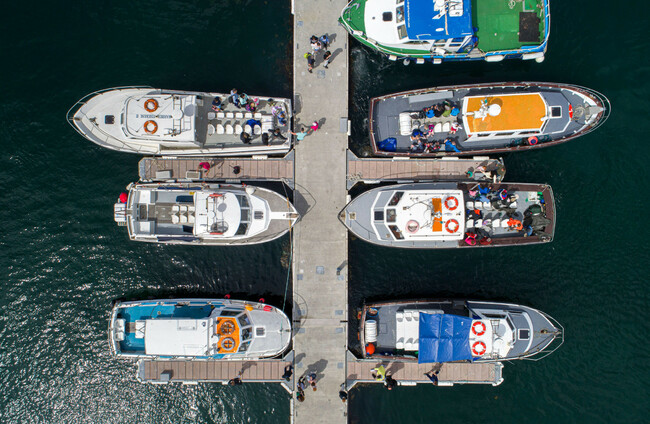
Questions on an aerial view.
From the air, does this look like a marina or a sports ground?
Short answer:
marina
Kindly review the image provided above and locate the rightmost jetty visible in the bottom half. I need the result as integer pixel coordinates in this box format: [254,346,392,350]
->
[348,353,500,392]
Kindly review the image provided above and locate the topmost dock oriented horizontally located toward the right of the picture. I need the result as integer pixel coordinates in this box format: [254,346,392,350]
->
[348,152,500,189]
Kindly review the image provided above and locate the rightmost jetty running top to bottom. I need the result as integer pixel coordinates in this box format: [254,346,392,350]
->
[291,0,350,424]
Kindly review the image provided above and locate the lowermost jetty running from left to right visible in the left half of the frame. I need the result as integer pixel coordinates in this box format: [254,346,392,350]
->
[137,352,293,392]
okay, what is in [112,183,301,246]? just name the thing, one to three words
boat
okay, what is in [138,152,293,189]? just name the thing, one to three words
pier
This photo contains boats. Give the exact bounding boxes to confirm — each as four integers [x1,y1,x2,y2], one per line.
[108,297,293,361]
[337,182,558,248]
[112,183,301,246]
[66,84,293,157]
[358,298,564,362]
[337,0,550,63]
[369,83,610,157]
